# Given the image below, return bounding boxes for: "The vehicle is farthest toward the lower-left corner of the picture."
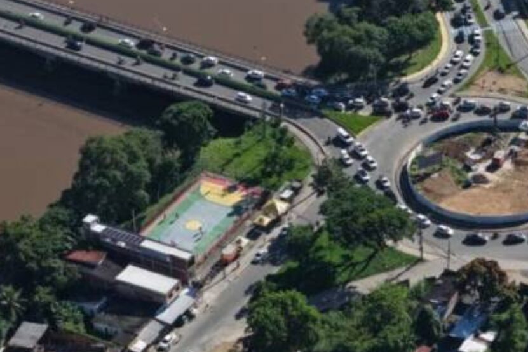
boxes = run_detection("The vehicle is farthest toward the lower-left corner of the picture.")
[157,332,177,351]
